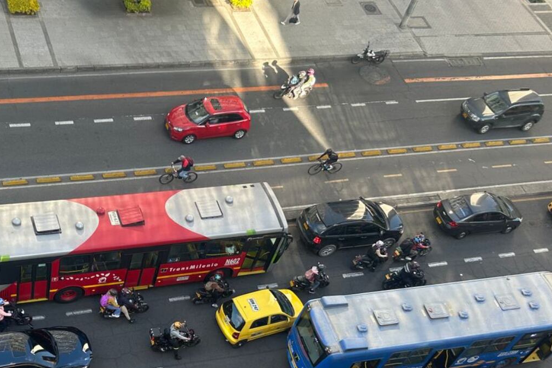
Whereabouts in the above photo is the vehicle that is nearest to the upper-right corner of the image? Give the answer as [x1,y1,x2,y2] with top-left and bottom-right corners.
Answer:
[458,82,546,131]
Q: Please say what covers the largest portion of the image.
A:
paved ground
